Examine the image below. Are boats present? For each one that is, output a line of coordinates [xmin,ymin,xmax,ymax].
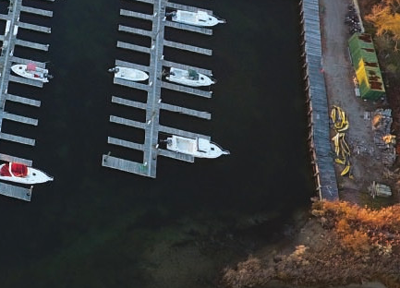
[0,162,58,184]
[8,61,54,82]
[166,67,220,85]
[168,7,227,27]
[113,66,149,80]
[163,135,235,158]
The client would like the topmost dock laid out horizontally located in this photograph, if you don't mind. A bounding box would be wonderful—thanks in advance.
[101,155,156,179]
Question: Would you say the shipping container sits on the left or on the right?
right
